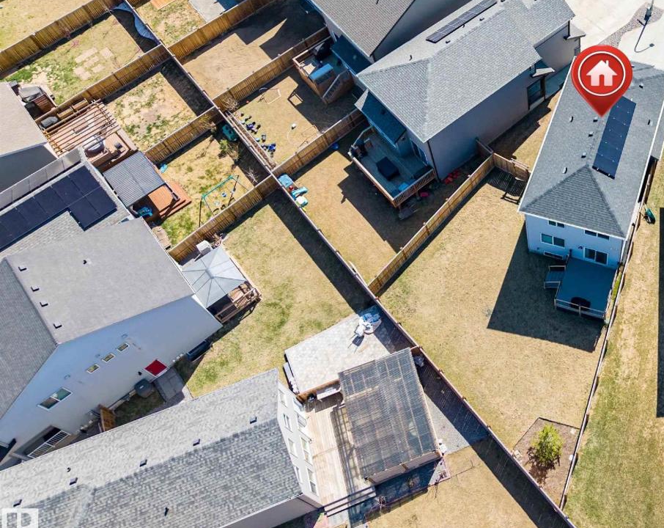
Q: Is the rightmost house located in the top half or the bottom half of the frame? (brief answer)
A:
top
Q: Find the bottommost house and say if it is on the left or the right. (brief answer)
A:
left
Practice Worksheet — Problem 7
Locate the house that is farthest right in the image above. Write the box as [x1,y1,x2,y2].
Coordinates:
[519,45,664,270]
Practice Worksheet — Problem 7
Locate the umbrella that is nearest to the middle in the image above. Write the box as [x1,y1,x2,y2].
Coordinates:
[350,309,381,336]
